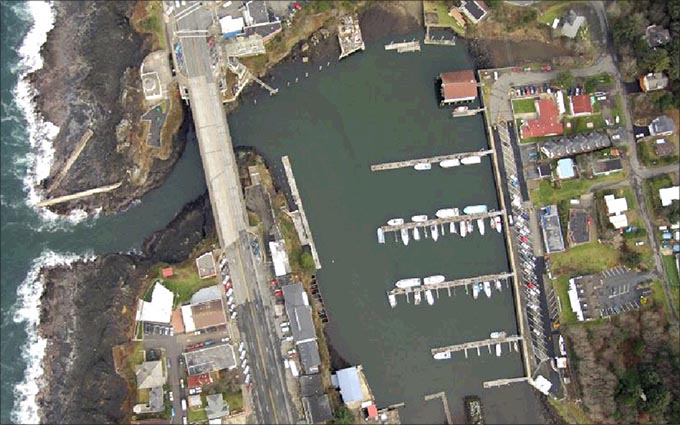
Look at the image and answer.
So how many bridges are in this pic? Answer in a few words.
1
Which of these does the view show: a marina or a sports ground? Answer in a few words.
marina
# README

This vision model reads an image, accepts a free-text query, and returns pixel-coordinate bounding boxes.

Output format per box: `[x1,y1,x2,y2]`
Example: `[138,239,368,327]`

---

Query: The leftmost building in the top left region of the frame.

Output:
[142,73,163,101]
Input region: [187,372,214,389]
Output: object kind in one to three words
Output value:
building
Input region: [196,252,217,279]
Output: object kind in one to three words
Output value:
house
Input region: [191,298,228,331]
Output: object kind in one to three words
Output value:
building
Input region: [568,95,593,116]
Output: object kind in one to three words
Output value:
house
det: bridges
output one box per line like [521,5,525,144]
[189,76,250,250]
